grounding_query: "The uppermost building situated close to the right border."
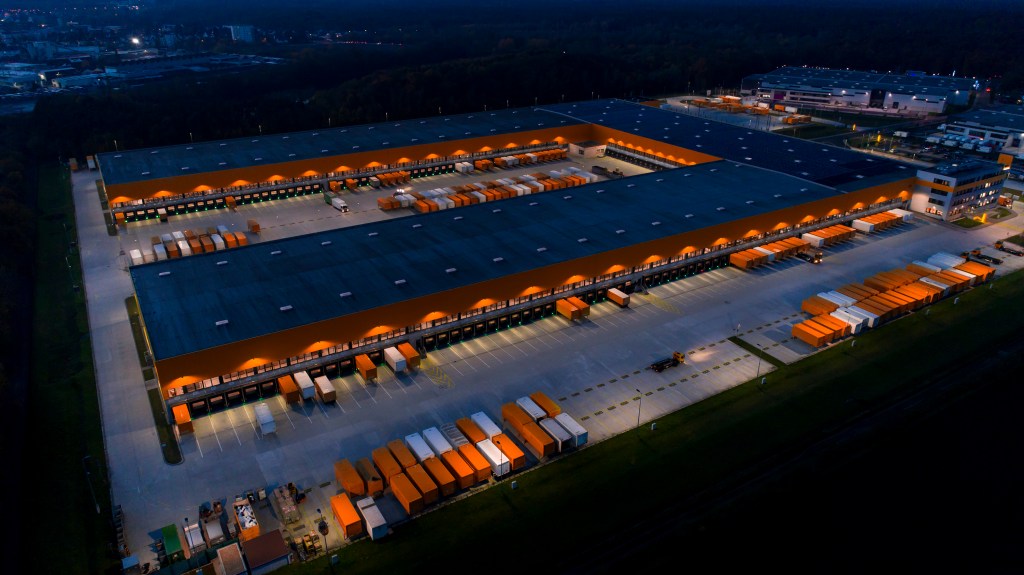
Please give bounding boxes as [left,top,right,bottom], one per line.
[740,66,983,112]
